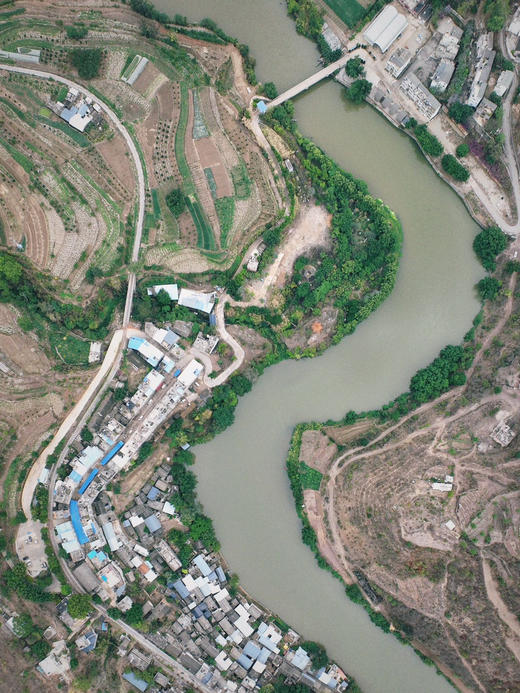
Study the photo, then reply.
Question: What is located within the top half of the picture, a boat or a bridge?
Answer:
bridge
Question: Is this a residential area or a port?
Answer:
residential area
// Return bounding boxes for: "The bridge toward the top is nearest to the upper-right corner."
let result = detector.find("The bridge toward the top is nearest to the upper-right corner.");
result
[263,53,353,112]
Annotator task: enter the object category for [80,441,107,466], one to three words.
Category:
house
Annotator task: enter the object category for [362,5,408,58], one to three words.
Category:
building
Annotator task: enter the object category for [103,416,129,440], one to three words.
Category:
house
